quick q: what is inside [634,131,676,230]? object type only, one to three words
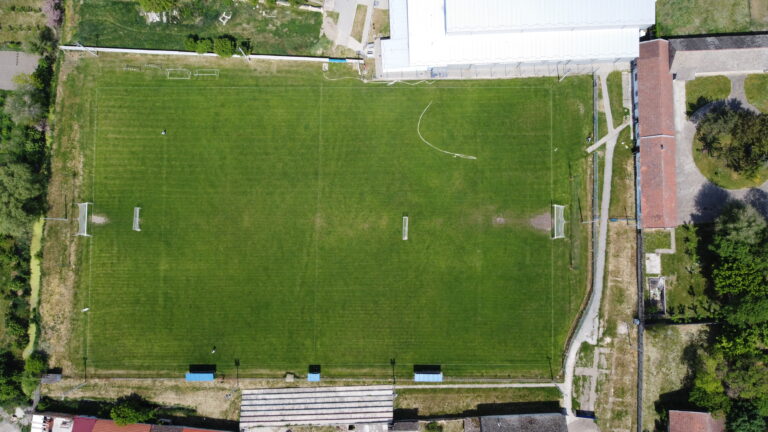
building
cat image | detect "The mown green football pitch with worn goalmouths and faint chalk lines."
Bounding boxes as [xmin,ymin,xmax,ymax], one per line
[82,82,560,372]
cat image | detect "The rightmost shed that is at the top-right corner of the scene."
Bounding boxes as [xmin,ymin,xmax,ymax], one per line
[672,33,768,75]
